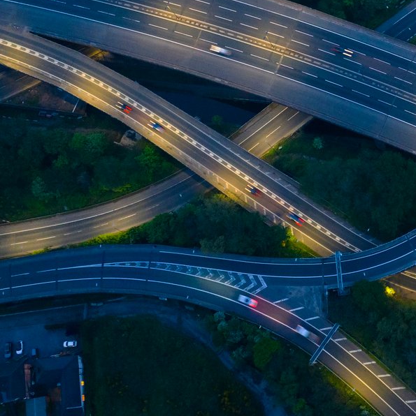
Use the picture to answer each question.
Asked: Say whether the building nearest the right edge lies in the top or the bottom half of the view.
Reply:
bottom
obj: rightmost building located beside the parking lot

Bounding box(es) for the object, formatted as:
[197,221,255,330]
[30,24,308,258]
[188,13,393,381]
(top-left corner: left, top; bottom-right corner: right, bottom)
[58,355,92,414]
